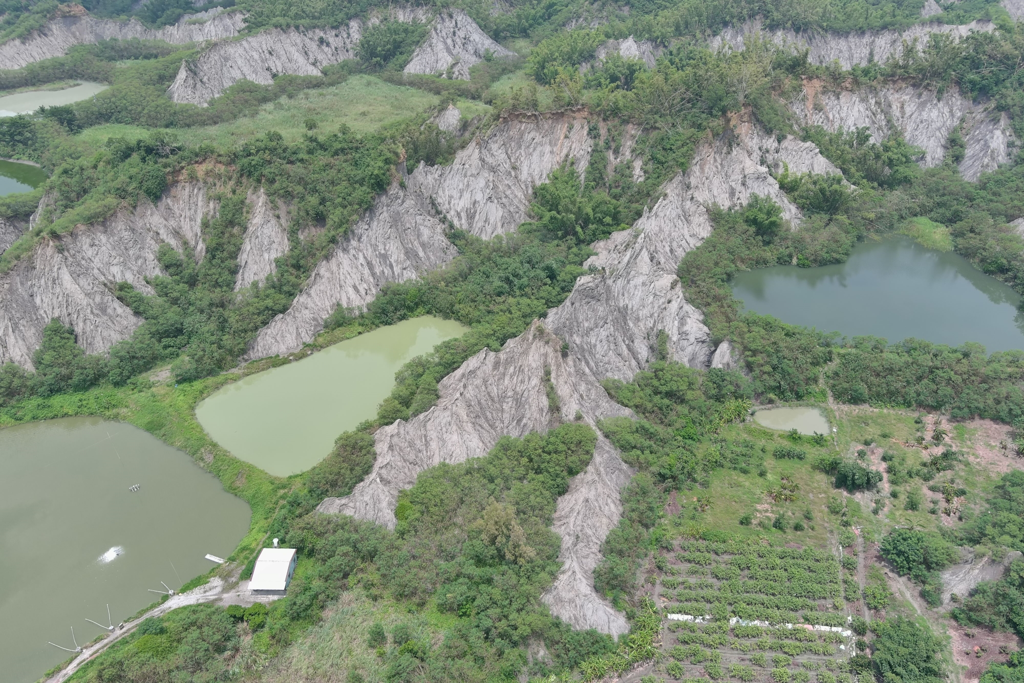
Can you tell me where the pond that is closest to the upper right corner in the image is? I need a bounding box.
[731,233,1024,363]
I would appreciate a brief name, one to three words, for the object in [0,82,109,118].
pond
